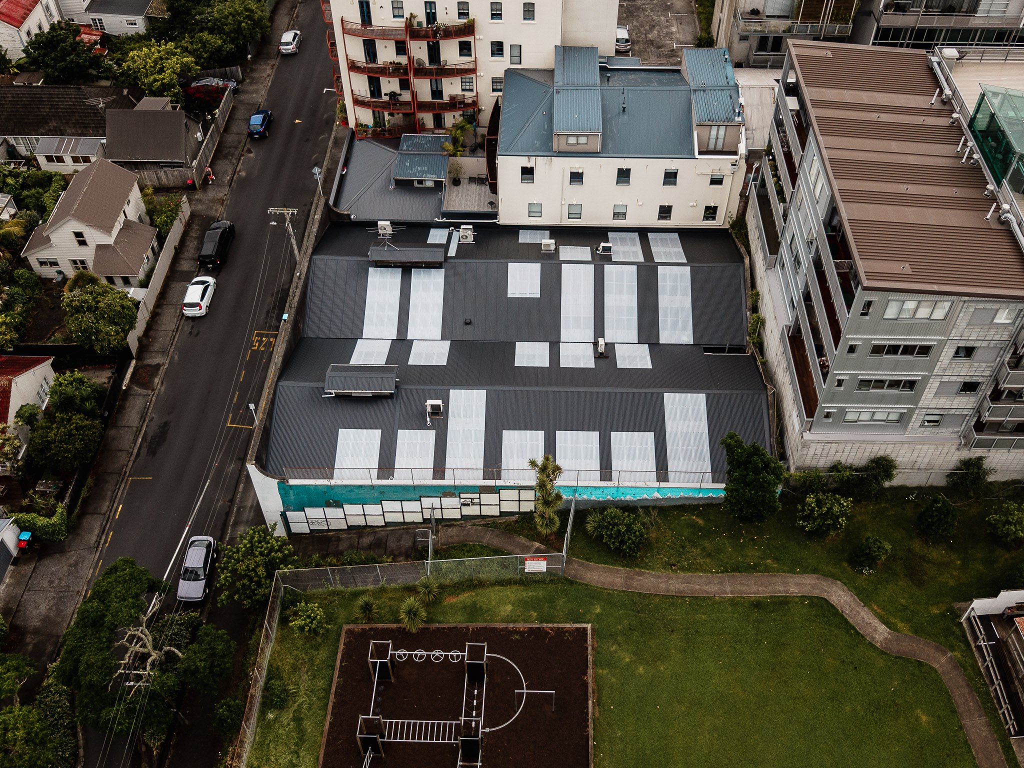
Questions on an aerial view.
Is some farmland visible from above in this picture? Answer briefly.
No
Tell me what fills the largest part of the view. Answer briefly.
buildings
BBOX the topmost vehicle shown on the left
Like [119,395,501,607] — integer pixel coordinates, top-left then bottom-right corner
[278,34,302,57]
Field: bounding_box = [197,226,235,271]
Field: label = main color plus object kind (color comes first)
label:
black car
